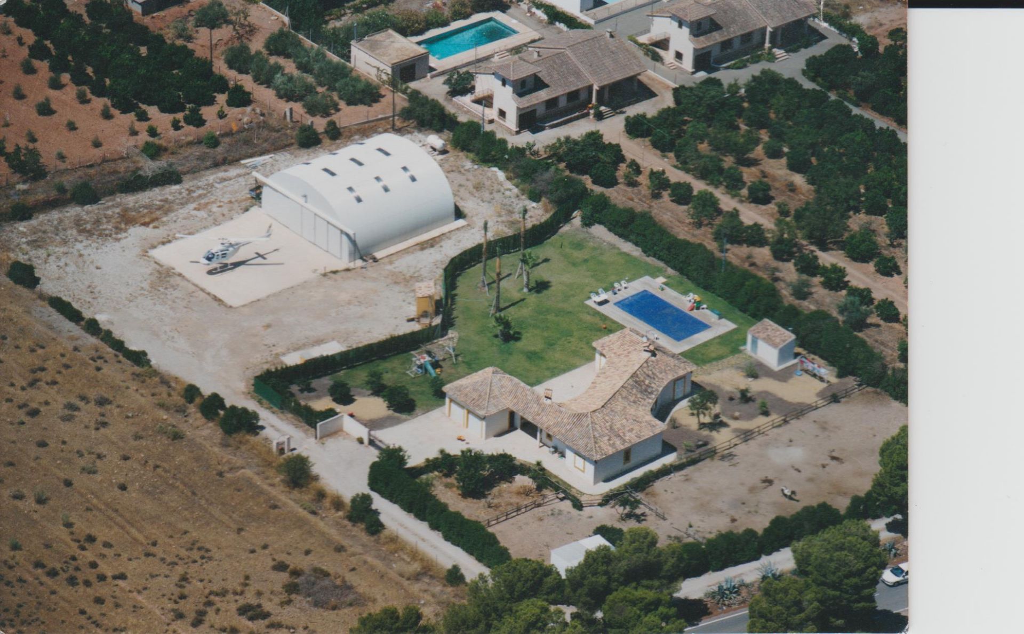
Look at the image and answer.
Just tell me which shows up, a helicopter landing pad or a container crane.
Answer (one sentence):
There is a helicopter landing pad in the scene.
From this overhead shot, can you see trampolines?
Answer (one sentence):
No, no trampoline is visible in the scene.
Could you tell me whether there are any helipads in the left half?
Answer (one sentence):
Yes, I can see a helipad in the left half.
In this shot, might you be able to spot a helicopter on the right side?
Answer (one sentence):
No, the scene shows no helicopter on the right side.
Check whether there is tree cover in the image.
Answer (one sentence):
Yes, the picture does contain tree cover.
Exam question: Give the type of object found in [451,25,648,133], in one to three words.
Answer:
house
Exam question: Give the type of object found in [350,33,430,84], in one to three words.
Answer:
shed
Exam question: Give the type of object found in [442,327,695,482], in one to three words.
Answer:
house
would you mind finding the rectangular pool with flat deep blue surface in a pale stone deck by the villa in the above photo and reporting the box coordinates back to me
[585,275,738,354]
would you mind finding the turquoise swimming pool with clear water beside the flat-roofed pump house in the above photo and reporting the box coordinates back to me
[399,10,542,76]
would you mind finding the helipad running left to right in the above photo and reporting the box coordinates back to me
[149,206,354,308]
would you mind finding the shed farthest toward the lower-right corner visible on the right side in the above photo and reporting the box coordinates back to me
[743,320,798,369]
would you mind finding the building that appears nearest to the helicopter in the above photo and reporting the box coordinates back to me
[255,131,456,265]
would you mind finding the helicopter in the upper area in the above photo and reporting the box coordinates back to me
[176,223,275,269]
